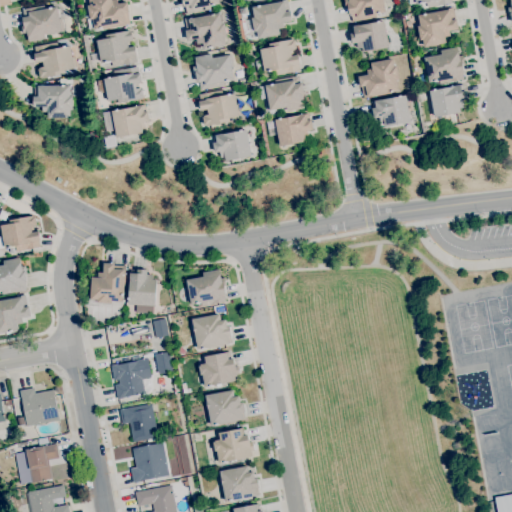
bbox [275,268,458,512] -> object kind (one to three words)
sports field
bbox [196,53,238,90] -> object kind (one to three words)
house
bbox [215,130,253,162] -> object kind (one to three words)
house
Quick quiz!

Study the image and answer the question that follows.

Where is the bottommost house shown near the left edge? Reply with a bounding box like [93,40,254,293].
[24,484,70,512]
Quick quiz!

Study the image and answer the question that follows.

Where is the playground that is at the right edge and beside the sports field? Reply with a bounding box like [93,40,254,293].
[443,282,512,512]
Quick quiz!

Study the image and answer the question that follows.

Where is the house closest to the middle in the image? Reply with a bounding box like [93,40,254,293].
[188,269,229,307]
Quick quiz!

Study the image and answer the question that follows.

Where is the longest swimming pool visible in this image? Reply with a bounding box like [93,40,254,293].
[38,422,60,435]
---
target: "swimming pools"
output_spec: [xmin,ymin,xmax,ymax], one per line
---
[216,304,227,314]
[38,422,60,435]
[178,500,188,512]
